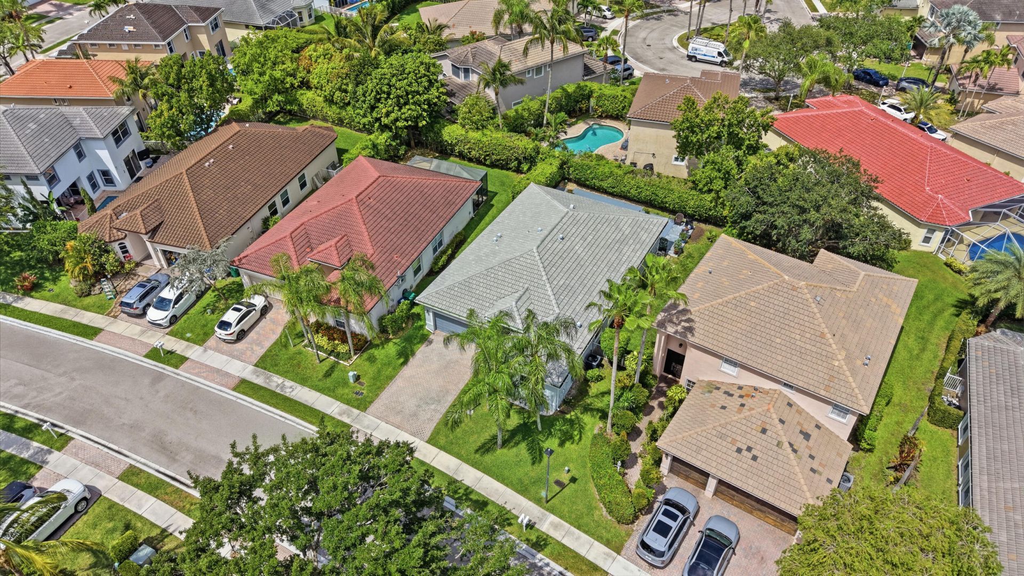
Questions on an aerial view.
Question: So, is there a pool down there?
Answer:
Yes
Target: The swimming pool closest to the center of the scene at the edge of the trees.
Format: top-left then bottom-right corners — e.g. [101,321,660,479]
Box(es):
[560,122,625,161]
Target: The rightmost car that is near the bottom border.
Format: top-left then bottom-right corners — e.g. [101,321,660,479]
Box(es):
[680,511,739,576]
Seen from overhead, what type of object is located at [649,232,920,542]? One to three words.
house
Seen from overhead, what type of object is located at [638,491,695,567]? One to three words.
car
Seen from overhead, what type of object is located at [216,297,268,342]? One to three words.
car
